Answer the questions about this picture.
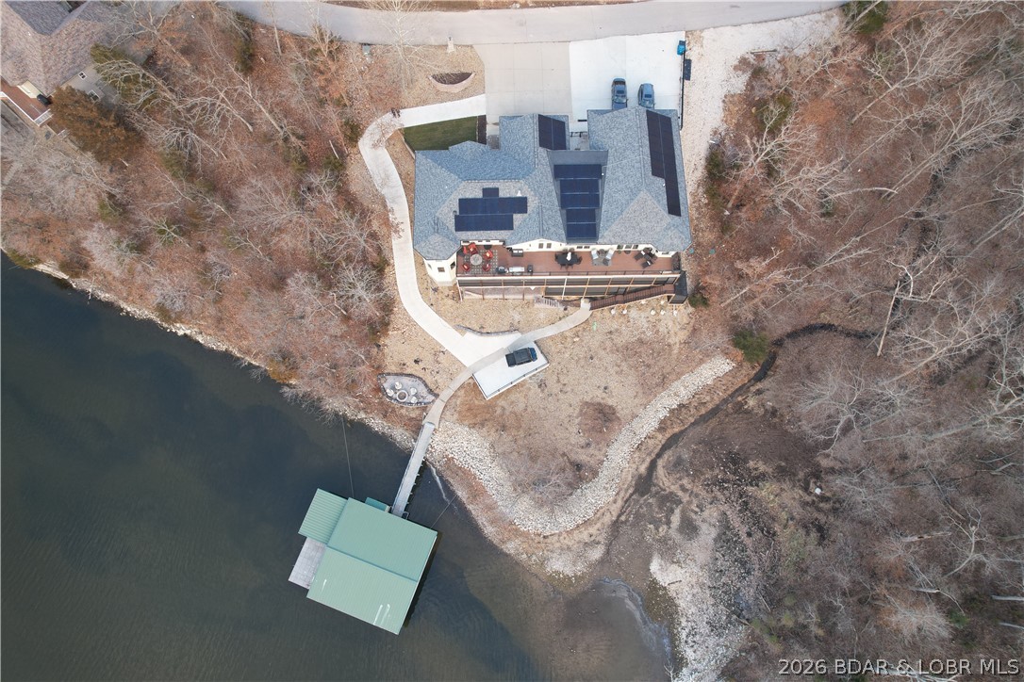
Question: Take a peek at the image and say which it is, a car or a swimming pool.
car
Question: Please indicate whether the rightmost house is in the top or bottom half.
top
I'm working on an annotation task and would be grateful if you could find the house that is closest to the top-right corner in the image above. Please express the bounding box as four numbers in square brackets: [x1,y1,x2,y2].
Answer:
[413,106,691,314]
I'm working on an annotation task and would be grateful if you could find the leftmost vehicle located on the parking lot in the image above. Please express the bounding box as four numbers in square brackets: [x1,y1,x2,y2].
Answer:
[505,347,538,367]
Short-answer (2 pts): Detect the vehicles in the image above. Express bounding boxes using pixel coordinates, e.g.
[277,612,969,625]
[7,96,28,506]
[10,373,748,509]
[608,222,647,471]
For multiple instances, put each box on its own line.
[611,76,630,110]
[638,80,659,110]
[505,347,538,367]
